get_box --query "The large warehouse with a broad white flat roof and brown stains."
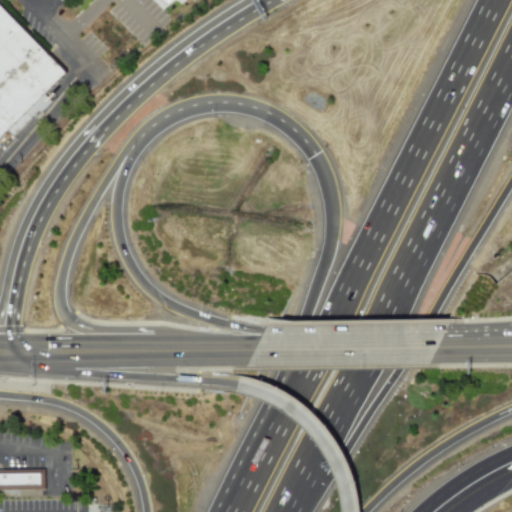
[0,5,66,137]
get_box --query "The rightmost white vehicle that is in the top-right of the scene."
[499,102,511,119]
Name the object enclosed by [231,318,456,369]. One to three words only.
overpass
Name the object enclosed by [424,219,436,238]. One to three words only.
vehicle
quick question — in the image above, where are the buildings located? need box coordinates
[0,468,48,488]
[154,0,182,12]
[0,5,66,137]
